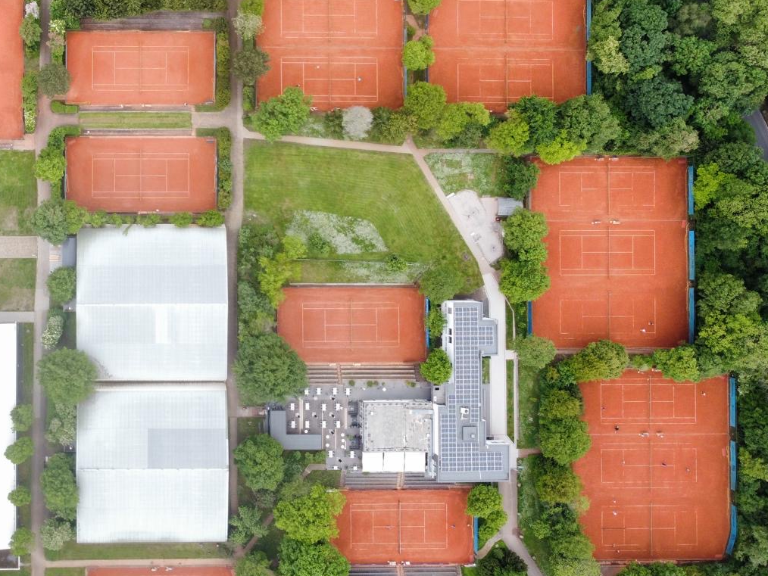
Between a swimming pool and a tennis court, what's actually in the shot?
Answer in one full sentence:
The one in the frame is a tennis court.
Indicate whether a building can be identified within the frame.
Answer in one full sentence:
Yes, there's a building down there.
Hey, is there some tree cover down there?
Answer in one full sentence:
Yes, tree cover can be seen from above here.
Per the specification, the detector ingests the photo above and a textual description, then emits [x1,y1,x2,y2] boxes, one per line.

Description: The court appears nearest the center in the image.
[277,287,426,363]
